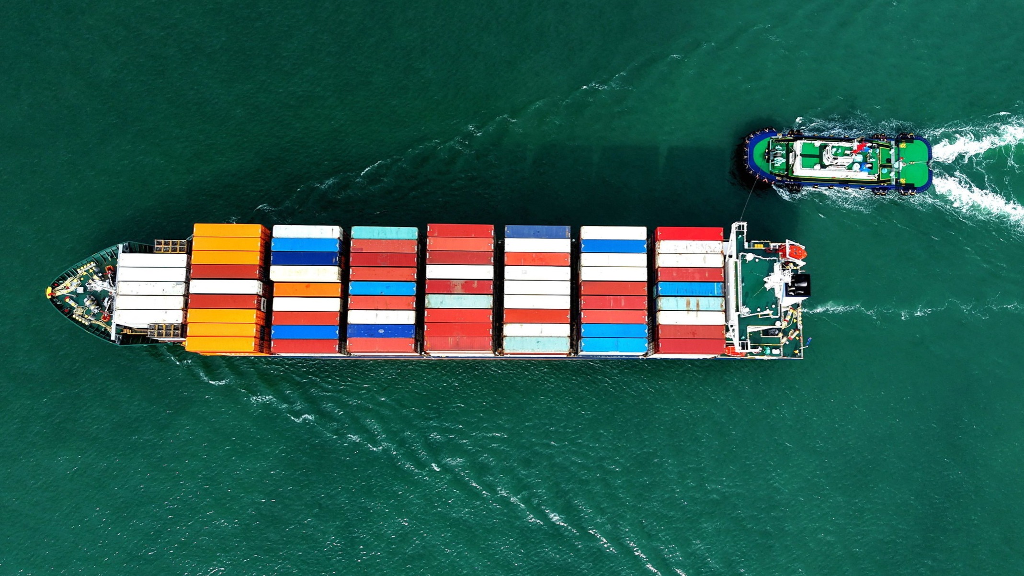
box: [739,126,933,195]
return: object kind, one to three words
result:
boat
